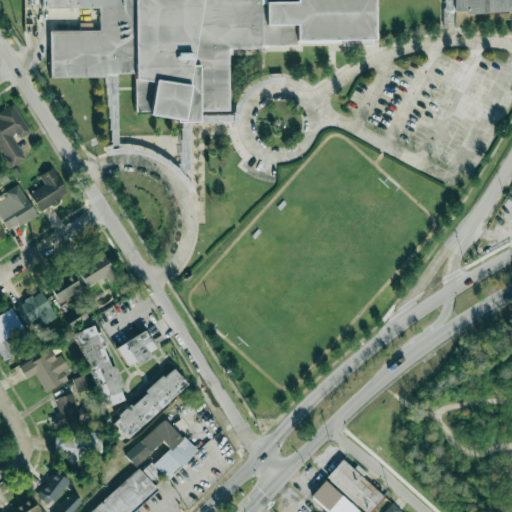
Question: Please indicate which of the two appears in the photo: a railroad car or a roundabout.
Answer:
roundabout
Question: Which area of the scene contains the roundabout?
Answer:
top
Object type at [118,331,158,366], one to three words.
building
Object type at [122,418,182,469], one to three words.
building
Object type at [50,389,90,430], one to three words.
house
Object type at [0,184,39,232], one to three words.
house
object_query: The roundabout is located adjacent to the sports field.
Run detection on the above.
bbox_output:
[237,82,322,168]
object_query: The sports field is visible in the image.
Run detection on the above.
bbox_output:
[189,134,436,393]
